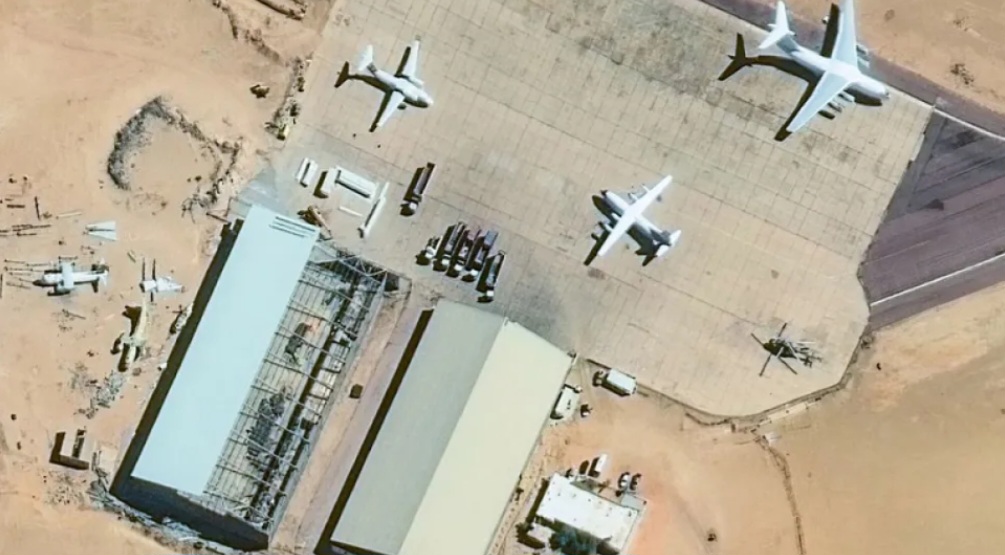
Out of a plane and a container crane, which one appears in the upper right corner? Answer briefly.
plane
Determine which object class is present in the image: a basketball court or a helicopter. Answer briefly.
helicopter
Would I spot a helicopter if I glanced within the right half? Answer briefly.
Yes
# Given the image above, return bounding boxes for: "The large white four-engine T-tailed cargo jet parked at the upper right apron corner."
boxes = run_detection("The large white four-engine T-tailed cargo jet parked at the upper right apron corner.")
[759,0,887,128]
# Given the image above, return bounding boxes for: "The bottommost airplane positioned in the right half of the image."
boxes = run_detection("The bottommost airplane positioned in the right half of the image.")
[591,172,683,257]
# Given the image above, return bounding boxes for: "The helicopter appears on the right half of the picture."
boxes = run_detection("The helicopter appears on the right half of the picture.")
[761,318,819,376]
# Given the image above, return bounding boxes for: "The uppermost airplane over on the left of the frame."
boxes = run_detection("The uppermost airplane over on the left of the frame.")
[356,40,433,130]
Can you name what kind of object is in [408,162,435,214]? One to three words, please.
truck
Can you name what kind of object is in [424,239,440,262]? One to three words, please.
vehicle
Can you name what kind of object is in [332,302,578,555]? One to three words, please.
hangar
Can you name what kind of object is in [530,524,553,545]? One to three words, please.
shed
